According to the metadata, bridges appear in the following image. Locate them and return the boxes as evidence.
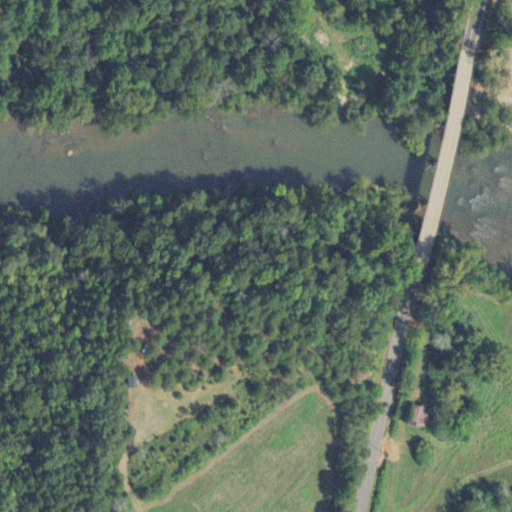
[419,46,474,247]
